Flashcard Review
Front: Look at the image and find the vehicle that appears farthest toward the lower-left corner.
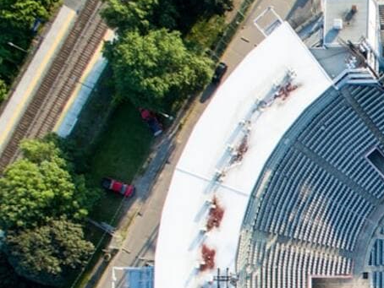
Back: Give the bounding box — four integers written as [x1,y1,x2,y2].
[100,175,132,198]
